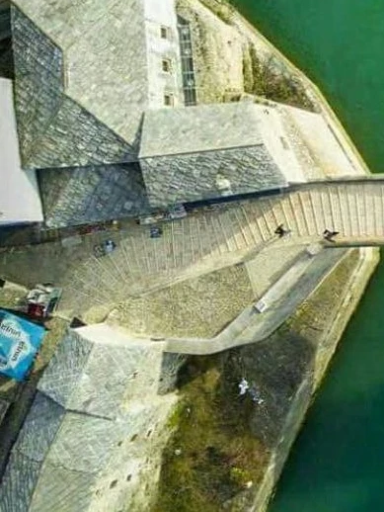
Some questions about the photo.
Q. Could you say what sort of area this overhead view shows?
residential area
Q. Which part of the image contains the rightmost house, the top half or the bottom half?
top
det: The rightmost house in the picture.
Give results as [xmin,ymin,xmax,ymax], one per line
[139,99,315,208]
